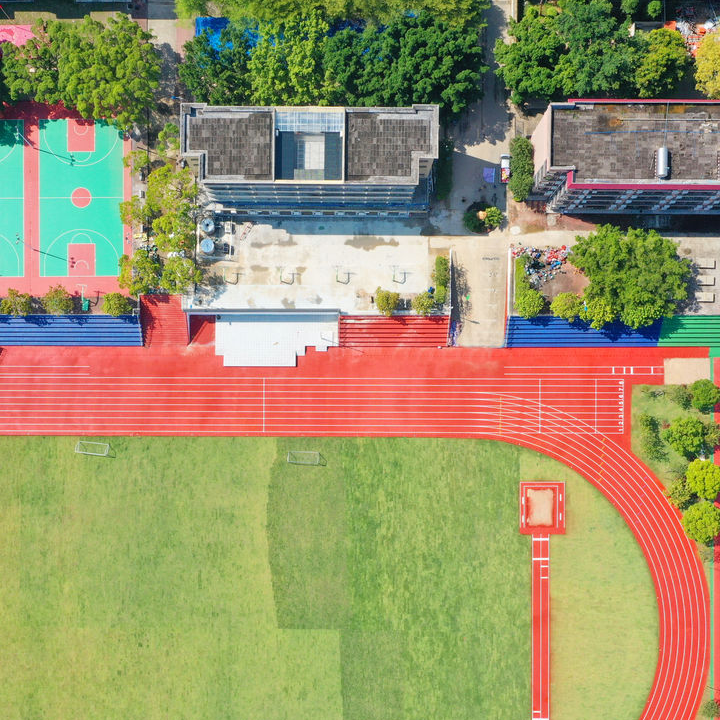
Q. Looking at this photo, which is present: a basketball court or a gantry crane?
basketball court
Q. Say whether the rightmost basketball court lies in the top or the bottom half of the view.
top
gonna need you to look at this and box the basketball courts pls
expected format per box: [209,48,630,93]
[39,119,124,277]
[0,119,24,277]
